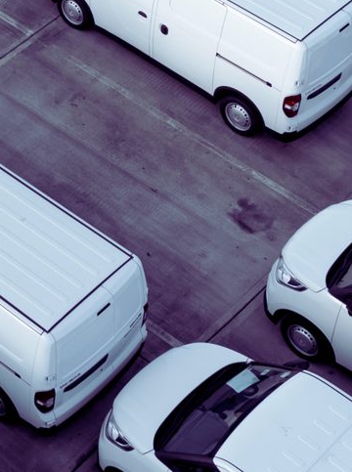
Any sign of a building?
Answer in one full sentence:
No, no building is visible in the view.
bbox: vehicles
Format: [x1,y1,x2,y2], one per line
[265,202,352,380]
[52,0,352,144]
[96,344,352,472]
[0,165,144,438]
